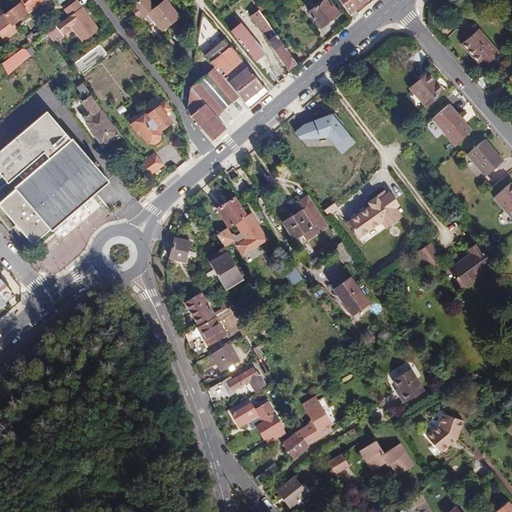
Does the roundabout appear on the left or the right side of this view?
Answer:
left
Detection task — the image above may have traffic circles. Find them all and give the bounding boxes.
[91,226,148,282]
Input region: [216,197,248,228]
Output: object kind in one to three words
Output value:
house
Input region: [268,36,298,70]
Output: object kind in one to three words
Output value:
shed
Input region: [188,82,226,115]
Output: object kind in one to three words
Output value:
building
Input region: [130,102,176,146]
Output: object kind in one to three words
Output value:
house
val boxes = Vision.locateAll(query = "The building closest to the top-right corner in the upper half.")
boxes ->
[460,28,498,67]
